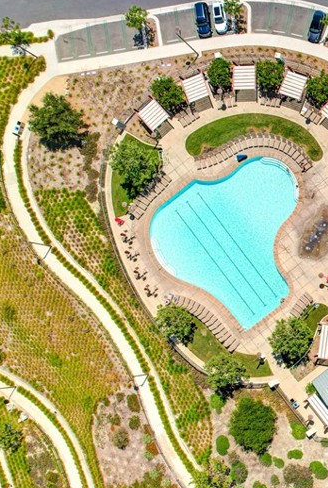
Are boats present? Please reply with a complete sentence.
No, no boat is visible in the view.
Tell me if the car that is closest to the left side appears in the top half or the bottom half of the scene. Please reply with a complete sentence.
You can find the car that is closest to the left side in the top half.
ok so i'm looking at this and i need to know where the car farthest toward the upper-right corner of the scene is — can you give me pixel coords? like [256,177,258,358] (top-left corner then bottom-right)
[307,10,325,43]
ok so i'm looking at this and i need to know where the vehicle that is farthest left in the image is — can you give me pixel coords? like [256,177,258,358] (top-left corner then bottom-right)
[193,2,215,39]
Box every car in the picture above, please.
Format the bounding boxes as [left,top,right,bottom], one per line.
[209,2,228,35]
[307,10,325,43]
[193,2,215,39]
